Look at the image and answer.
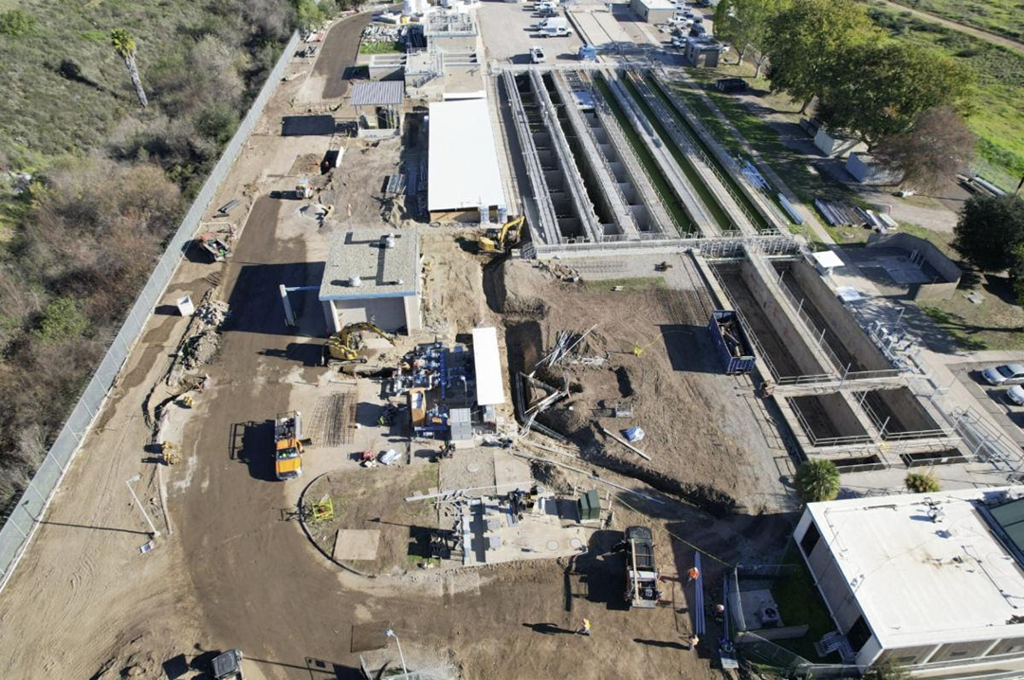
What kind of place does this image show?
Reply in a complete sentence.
It's an industrial area.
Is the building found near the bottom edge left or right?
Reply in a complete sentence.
The building found near the bottom edge is on the right side of the image.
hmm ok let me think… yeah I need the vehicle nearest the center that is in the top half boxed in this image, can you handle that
[470,211,519,254]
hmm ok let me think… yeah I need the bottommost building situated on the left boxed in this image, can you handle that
[320,227,422,341]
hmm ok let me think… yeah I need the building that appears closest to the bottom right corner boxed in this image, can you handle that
[794,485,1024,680]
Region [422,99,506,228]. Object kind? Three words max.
building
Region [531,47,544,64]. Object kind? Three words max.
vehicle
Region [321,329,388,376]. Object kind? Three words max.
work vehicle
